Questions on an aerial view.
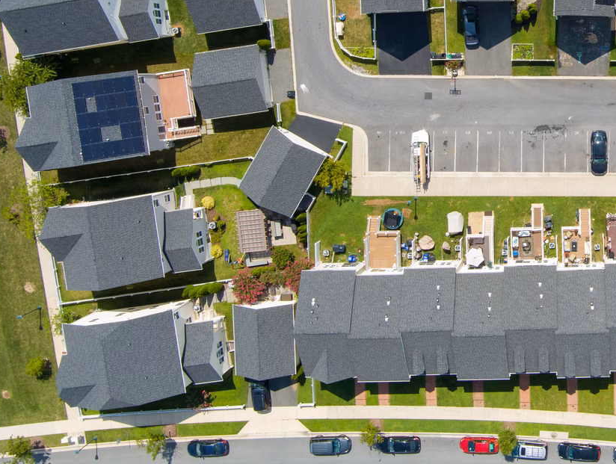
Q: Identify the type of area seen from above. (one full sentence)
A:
It's a residential area.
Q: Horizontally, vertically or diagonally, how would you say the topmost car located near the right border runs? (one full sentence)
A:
The topmost car located near the right border runs vertically in the image.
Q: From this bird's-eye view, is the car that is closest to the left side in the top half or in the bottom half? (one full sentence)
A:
It is in the bottom half that the car that is closest to the left side appears.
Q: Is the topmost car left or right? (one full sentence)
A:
The topmost car is on the right side of the image.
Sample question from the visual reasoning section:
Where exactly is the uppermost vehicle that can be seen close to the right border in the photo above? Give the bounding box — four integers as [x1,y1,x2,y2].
[589,130,609,173]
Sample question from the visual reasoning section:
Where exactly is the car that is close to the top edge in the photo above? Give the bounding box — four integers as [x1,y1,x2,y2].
[461,5,481,47]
